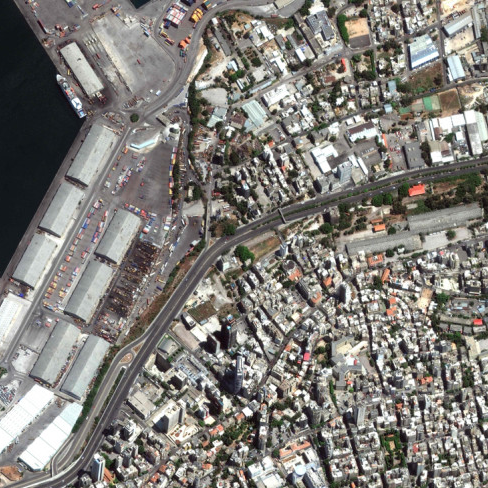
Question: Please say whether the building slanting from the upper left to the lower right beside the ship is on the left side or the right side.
left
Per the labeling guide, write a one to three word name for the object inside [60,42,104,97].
building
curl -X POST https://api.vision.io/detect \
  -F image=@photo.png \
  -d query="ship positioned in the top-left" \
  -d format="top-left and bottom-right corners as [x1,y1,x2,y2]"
[57,74,87,121]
